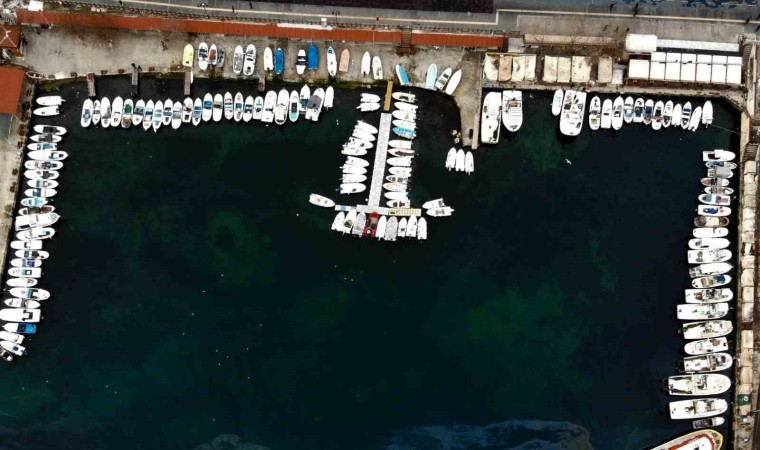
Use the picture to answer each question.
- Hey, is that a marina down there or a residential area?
marina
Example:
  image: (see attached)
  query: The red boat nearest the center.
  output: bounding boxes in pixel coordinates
[364,212,379,238]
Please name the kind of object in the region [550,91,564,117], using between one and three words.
boat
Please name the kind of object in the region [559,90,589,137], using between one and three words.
boat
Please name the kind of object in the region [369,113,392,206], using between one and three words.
pier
